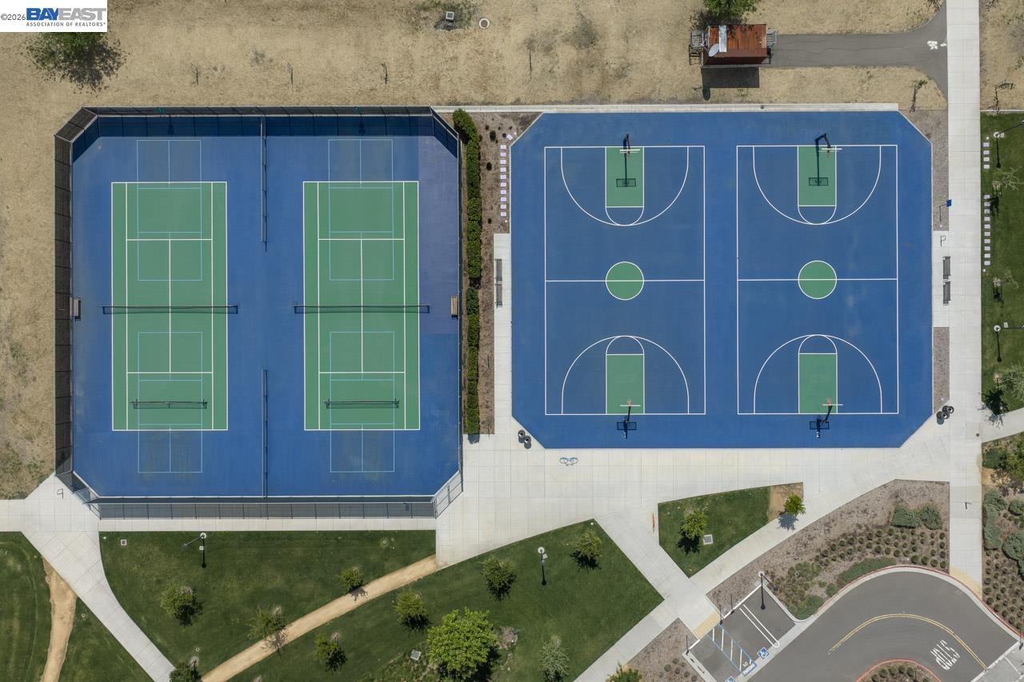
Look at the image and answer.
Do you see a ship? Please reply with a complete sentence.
No, I can't see a single ship in this photo.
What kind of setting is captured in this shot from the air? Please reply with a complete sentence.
The picture captures a sports ground.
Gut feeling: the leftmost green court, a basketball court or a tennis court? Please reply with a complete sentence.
I'd identify the leftmost green court as a tennis court.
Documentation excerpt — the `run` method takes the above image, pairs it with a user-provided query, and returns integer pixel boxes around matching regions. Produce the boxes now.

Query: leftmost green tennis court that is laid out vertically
[112,181,228,431]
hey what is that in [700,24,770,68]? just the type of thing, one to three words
building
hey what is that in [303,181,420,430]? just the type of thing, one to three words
tennis court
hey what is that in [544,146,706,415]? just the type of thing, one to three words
basketball court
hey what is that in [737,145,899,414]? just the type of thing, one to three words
basketball court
